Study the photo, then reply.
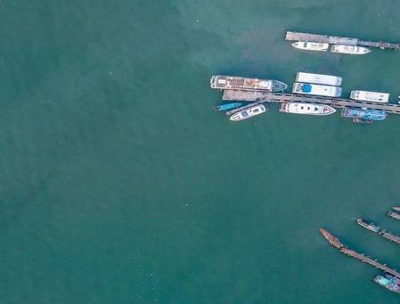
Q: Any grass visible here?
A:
No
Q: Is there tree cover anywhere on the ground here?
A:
No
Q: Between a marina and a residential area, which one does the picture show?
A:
marina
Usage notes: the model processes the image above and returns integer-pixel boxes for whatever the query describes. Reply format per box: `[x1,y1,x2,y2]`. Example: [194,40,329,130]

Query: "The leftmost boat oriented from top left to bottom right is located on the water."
[321,229,343,248]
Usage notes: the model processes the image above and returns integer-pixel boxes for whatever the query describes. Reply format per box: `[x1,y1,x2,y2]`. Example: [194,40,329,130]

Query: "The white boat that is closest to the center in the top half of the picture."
[230,104,267,120]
